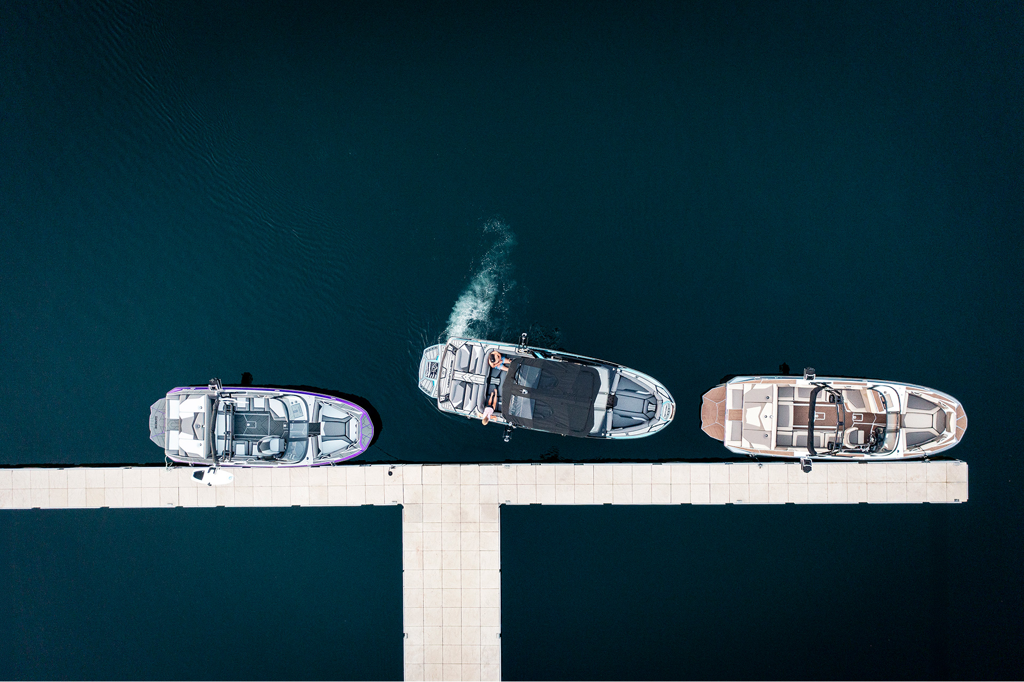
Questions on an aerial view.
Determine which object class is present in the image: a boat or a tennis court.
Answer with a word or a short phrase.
boat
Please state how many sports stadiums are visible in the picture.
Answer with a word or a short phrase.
0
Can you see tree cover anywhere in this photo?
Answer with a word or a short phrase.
No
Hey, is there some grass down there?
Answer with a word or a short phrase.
No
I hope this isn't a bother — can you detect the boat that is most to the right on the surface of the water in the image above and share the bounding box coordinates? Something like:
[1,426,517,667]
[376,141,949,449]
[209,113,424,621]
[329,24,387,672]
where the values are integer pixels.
[700,367,968,473]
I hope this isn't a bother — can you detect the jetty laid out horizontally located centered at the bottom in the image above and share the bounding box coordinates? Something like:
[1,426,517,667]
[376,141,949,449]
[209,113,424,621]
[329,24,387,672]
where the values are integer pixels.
[0,461,968,682]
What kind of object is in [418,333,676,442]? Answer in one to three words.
boat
